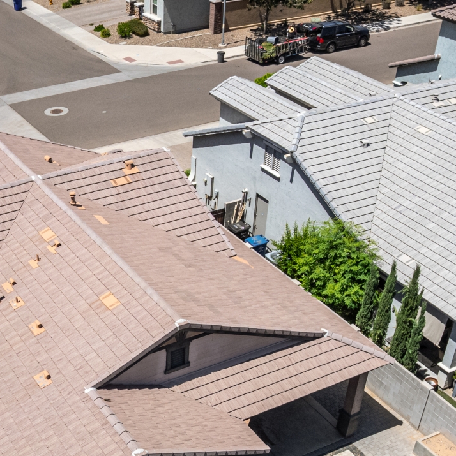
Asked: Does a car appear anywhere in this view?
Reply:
Yes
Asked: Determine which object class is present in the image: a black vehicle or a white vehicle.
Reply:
black vehicle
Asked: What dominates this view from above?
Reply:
buildings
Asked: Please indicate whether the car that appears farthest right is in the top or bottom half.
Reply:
top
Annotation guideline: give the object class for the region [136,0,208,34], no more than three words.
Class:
house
